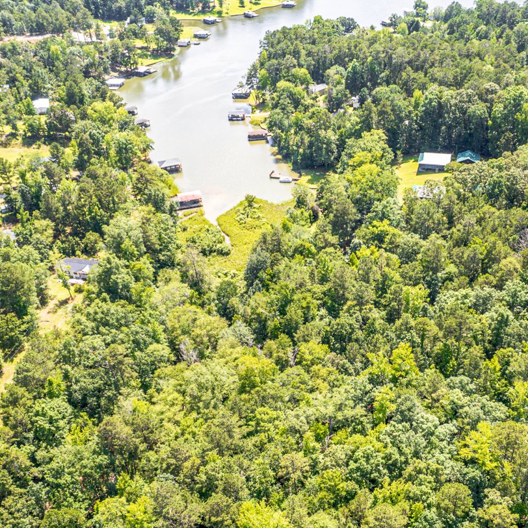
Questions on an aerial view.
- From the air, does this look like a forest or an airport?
forest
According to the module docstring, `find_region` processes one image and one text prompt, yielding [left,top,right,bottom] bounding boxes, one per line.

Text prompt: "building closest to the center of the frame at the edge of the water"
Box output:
[171,187,204,207]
